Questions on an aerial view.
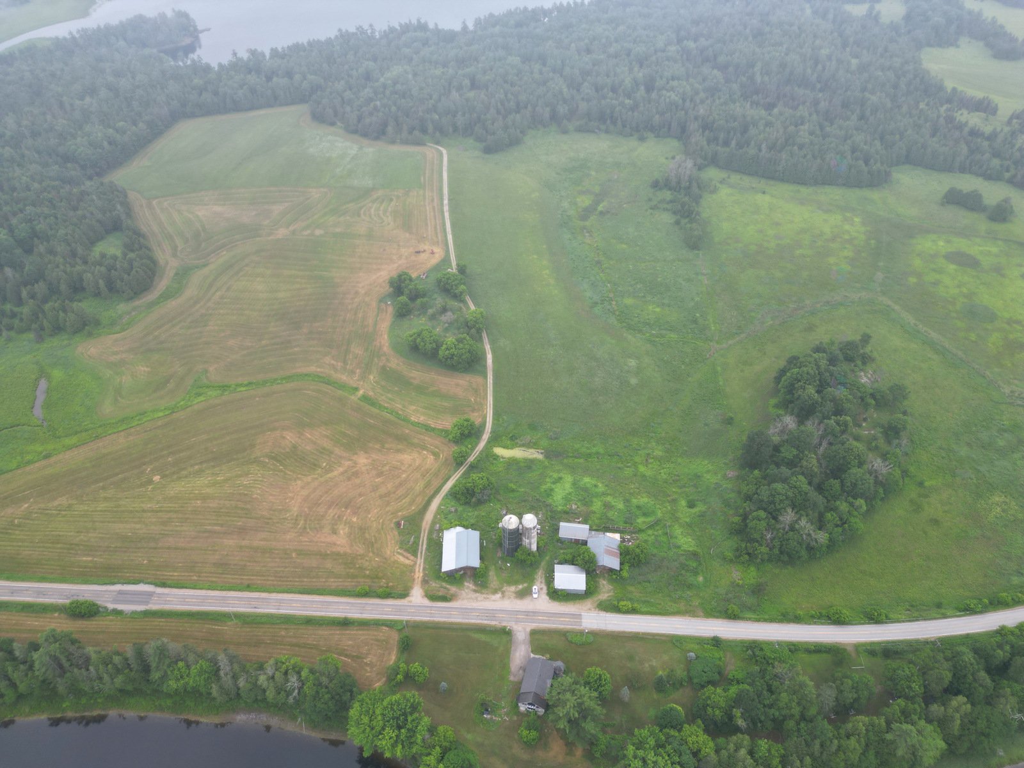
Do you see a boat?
No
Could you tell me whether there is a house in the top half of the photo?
No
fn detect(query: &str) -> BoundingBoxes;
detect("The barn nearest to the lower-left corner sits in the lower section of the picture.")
[442,526,479,575]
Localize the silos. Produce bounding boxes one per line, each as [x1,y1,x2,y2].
[500,515,522,555]
[522,515,540,551]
